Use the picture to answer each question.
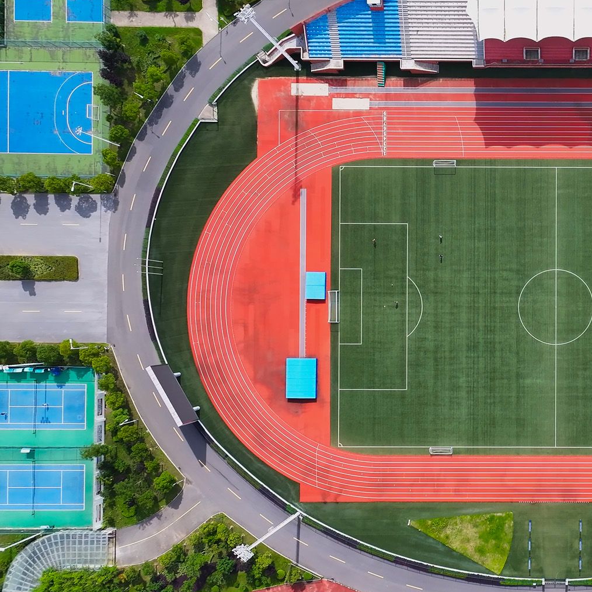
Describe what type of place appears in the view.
sports ground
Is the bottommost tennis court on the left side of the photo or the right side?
left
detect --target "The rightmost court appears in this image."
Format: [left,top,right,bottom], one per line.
[58,0,109,47]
